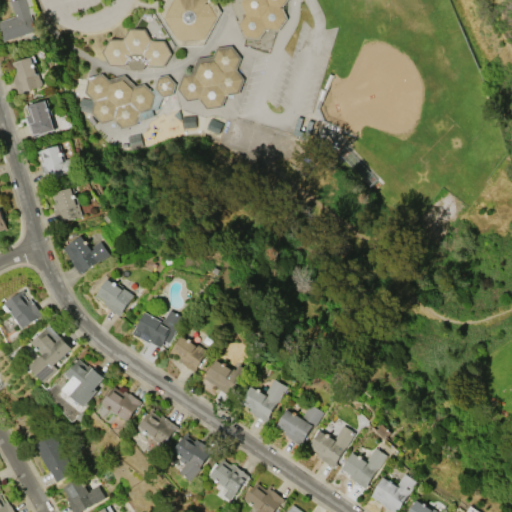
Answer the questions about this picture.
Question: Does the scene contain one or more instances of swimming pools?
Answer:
Yes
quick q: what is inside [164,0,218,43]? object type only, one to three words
building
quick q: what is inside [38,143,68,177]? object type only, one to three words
house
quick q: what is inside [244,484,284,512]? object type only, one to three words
house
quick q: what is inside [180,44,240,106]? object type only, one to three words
building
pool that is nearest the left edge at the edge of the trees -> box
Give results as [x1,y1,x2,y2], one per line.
[163,278,192,312]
